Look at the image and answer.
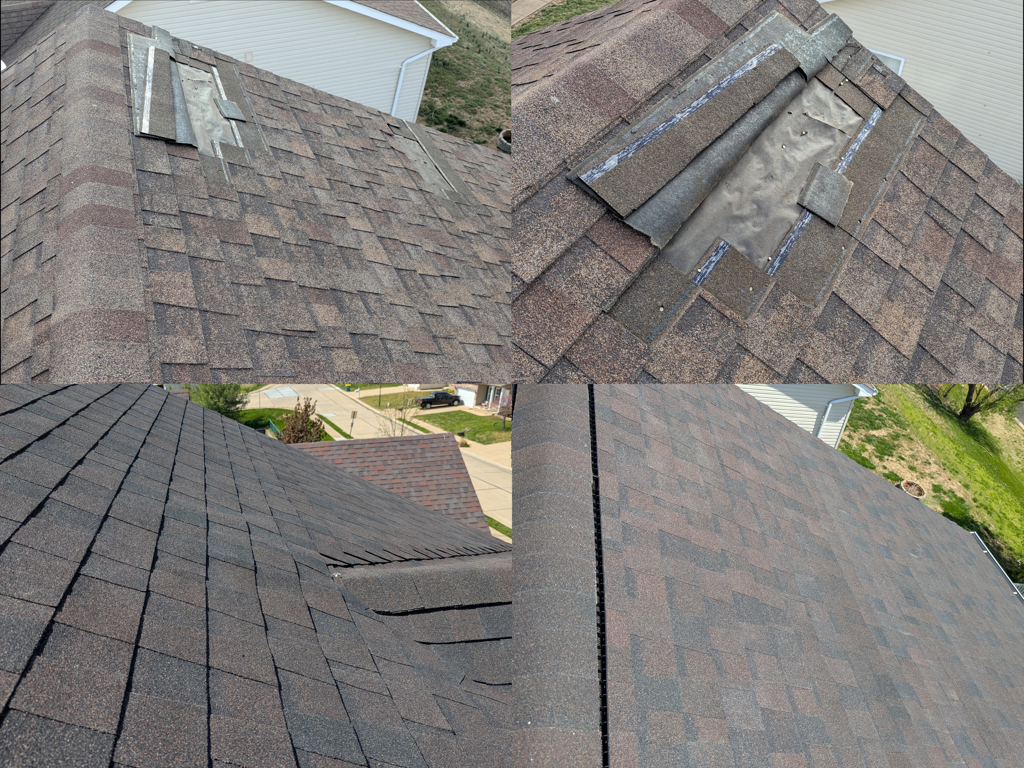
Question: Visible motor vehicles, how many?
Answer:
1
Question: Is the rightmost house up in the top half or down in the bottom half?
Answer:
top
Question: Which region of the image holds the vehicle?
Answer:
center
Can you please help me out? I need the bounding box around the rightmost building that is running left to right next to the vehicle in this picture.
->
[448,384,511,412]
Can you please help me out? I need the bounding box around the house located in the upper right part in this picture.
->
[822,0,1024,165]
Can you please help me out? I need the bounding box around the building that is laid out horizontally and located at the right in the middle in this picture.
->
[735,384,882,448]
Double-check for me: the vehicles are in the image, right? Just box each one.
[413,389,466,409]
